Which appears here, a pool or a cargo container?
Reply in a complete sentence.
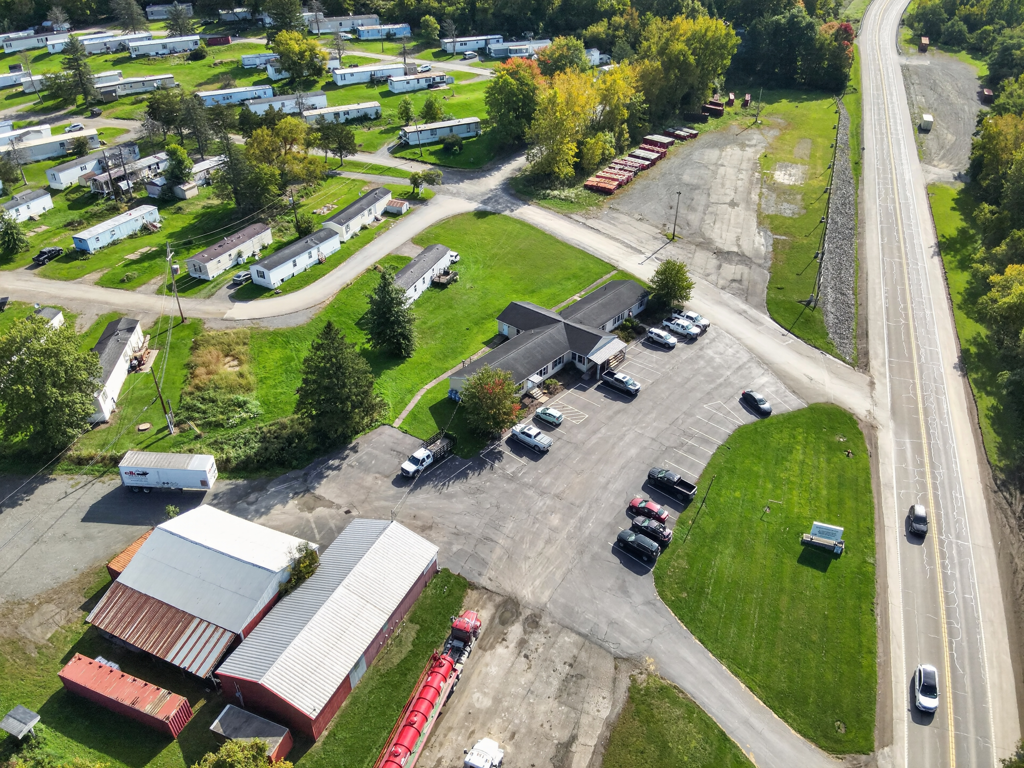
There is a cargo container in the scene.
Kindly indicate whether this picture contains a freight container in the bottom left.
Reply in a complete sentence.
Yes, a freight container shows up in the bottom left.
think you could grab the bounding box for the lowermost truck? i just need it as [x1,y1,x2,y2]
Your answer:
[465,733,507,768]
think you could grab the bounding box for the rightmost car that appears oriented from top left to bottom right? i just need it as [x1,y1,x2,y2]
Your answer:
[738,391,774,418]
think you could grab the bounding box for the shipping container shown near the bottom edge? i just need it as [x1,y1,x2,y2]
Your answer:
[59,652,193,738]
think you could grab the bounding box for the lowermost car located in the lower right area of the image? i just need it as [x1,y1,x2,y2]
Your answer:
[911,662,943,717]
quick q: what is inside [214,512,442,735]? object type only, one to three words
barn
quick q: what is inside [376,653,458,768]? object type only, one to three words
trailer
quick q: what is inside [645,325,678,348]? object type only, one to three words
car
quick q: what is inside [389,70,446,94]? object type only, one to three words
house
